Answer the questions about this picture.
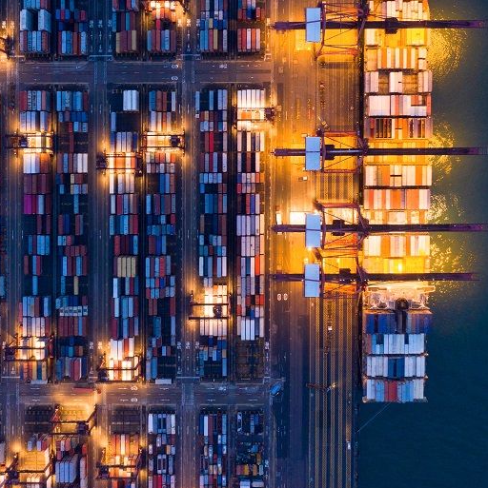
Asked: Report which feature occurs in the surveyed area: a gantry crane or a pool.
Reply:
gantry crane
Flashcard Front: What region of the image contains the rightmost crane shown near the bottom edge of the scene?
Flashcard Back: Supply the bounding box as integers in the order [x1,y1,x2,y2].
[95,449,141,481]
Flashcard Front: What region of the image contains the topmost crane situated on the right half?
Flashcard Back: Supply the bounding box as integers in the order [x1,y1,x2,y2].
[273,3,488,59]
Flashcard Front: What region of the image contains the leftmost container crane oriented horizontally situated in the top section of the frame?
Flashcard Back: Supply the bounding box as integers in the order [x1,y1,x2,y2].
[2,132,54,151]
